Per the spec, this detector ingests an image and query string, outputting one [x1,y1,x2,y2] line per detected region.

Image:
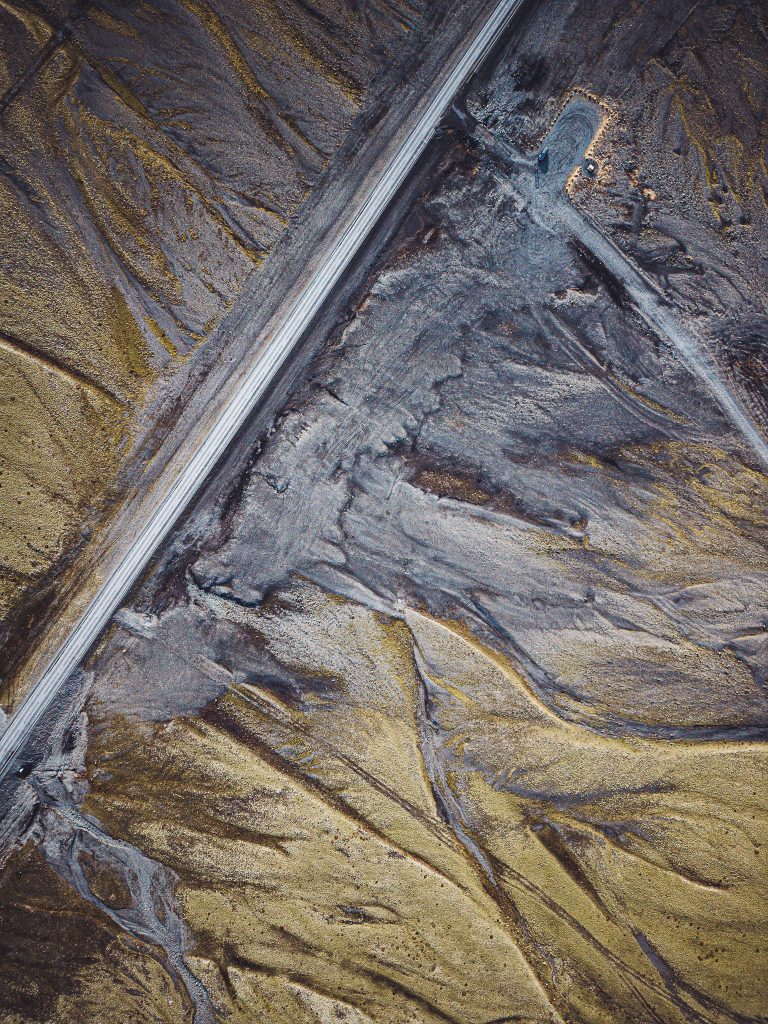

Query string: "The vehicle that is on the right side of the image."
[536,146,549,161]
